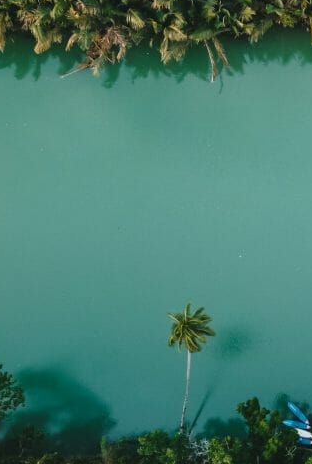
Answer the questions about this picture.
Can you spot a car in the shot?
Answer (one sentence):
No, I find no car anywhere in the image.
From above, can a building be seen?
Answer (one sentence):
No, the frame has no building in it.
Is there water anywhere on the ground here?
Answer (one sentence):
Yes, some water is visible.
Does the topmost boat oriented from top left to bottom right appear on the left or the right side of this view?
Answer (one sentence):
The topmost boat oriented from top left to bottom right sits on the right side.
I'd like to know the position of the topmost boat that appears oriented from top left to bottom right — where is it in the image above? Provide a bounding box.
[287,402,308,424]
